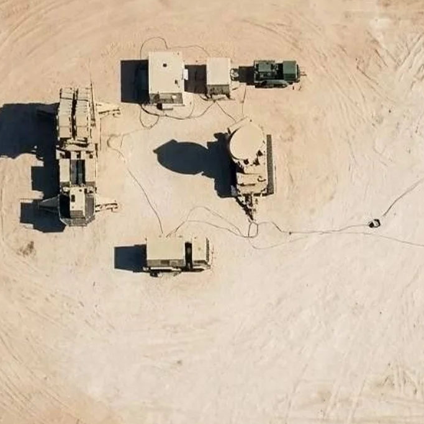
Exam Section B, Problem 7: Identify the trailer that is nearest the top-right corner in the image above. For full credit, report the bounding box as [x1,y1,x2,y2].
[254,58,307,87]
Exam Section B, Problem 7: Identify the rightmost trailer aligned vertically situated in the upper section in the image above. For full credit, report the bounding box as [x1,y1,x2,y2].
[226,117,275,220]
